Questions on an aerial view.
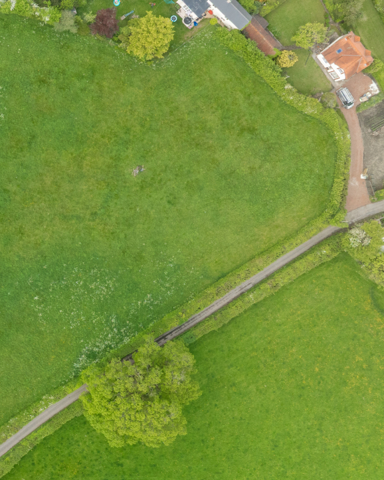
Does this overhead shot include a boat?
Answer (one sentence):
No, no boat can be seen from above.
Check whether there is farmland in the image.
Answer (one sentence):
Yes, there's farmland in this view.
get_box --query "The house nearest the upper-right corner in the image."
[314,31,374,81]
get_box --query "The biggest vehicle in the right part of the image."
[334,85,353,110]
